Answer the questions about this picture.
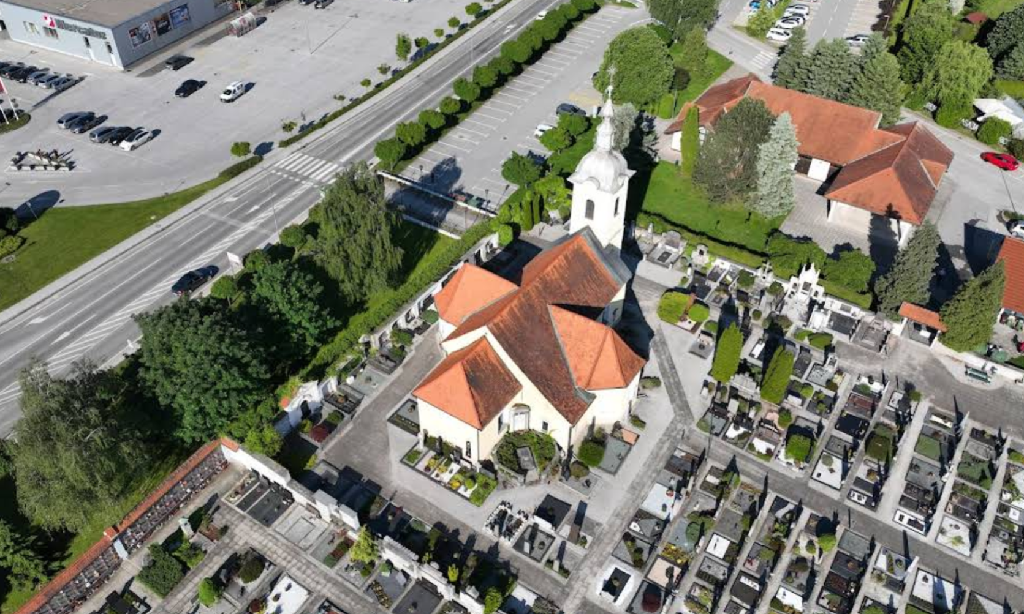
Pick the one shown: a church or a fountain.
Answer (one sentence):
Looking from above, you can make out a church.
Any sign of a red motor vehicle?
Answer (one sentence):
Yes, looking at the shot, I can spot a red motor vehicle.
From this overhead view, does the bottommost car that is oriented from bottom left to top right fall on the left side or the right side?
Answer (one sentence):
The bottommost car that is oriented from bottom left to top right is on the left side of the image.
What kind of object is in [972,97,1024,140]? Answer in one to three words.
tent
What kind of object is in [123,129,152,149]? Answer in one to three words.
car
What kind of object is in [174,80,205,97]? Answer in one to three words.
car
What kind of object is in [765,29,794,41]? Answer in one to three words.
vehicle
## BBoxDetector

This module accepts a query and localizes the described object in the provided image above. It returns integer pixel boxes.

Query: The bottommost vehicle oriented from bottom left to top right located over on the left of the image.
[173,267,216,297]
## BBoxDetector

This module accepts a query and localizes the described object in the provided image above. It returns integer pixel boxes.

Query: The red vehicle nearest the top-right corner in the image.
[979,152,1020,172]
